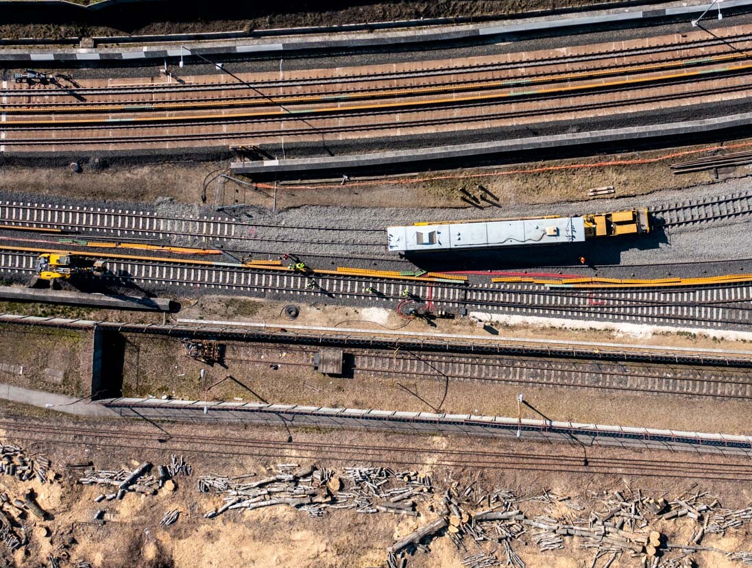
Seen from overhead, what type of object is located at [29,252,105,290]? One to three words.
work vehicle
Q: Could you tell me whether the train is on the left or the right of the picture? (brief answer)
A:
right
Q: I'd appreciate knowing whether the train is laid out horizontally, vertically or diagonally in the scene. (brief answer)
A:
horizontally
